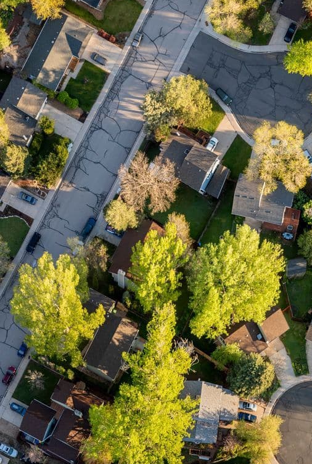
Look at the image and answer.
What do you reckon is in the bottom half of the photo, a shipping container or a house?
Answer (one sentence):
It is a house that can be seen in the bottom half of the photo.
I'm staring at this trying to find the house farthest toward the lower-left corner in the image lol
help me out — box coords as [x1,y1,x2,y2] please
[20,380,106,464]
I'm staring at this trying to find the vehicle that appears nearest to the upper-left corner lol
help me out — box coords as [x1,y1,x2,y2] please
[88,51,109,66]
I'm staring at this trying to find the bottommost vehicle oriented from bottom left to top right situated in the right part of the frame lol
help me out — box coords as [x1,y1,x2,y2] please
[203,134,221,152]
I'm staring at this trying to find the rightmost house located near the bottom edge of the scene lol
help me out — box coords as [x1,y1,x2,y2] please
[184,382,239,444]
